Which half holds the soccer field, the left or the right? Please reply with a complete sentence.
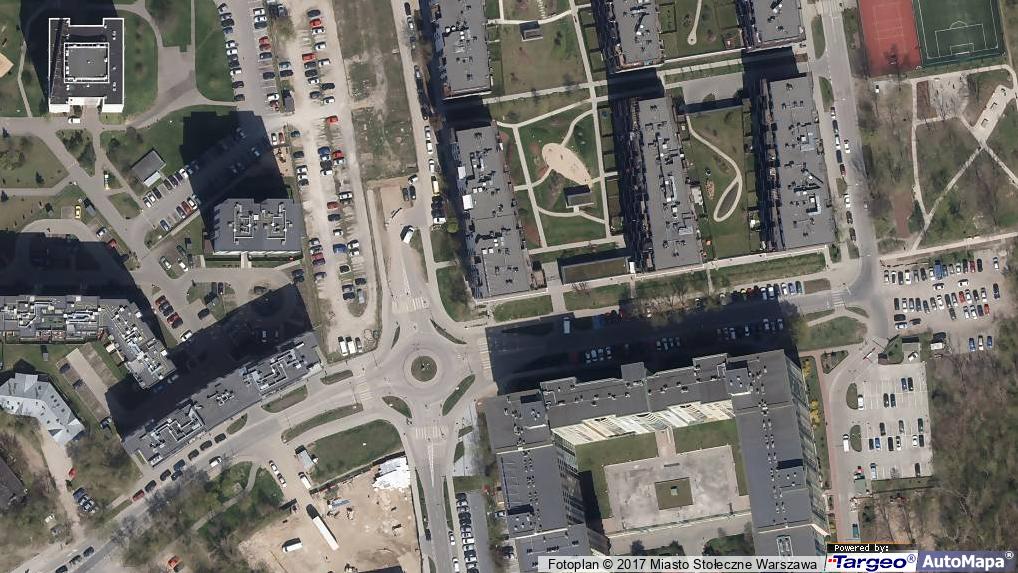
The soccer field appears in the right half of the scene.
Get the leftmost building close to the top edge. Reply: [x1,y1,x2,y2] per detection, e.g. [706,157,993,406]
[49,18,126,113]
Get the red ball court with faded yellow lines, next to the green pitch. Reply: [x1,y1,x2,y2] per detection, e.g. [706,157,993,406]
[860,0,923,76]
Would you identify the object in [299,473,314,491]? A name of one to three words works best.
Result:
vehicle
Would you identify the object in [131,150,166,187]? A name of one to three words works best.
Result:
building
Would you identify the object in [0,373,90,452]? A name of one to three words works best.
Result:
house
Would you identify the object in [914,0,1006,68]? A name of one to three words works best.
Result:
soccer field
